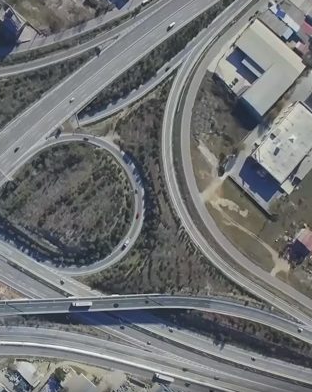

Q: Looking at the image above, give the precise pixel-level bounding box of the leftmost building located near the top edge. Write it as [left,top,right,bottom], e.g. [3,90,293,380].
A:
[0,8,22,34]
